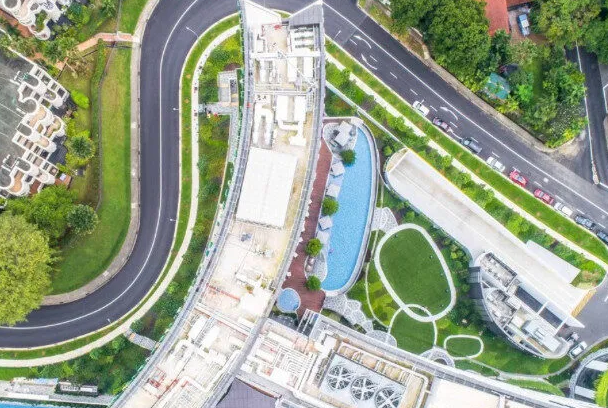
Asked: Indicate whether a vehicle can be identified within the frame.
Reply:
Yes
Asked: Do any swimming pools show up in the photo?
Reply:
Yes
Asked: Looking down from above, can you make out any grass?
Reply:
Yes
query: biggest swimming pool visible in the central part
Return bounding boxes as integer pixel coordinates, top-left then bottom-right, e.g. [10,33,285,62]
[304,111,385,303]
